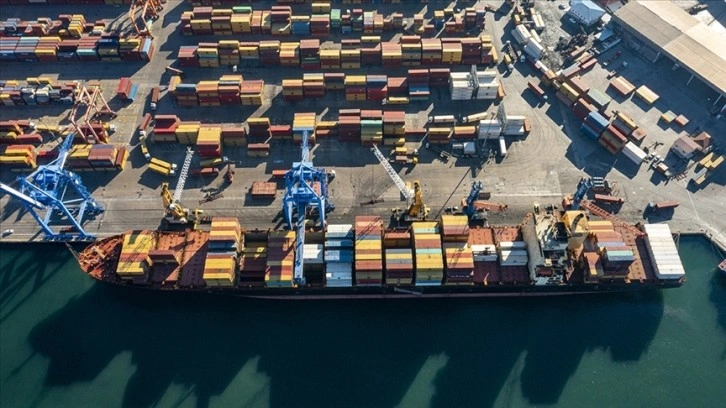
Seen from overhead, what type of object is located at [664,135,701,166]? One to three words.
building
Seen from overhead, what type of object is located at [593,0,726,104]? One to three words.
building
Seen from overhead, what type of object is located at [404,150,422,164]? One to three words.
work vehicle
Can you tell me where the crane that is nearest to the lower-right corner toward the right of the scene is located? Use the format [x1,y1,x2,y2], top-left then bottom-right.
[557,180,647,248]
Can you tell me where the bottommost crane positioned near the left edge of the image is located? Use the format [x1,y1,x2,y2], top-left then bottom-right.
[0,131,103,237]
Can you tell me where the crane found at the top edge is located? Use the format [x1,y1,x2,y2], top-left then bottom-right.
[125,0,160,37]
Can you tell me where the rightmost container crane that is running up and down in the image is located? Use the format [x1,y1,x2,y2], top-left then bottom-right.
[281,136,333,285]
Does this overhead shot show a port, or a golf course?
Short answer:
port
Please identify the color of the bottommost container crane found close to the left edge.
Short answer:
blue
